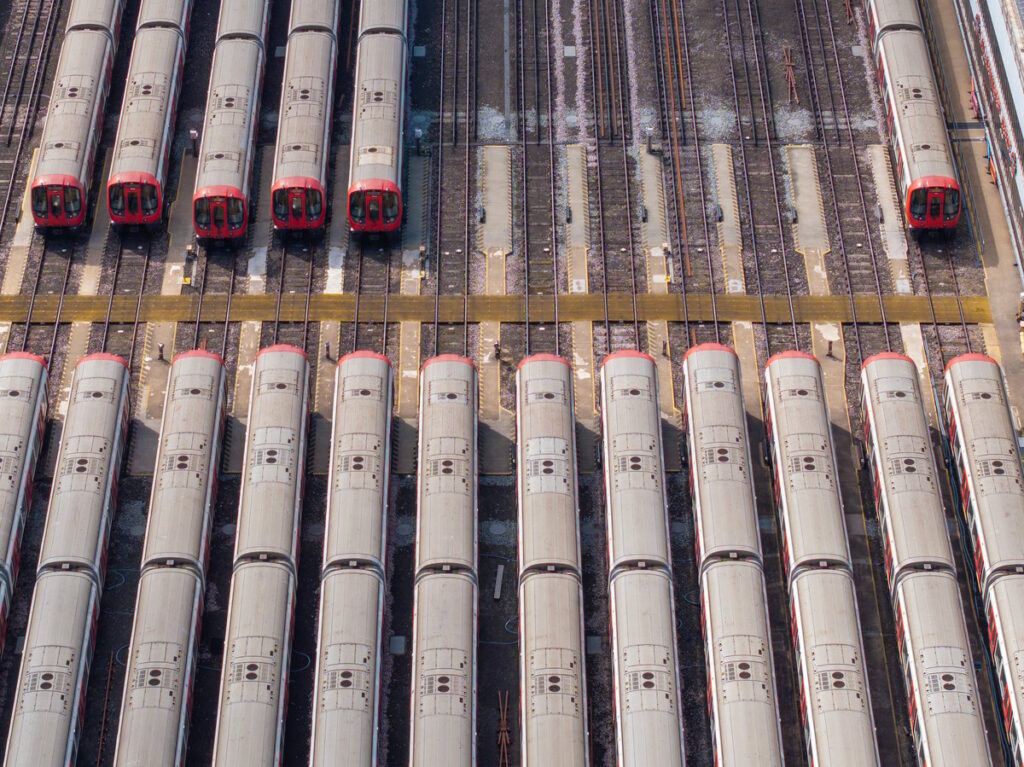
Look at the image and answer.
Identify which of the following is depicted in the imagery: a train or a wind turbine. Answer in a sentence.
I can see a train in this picture.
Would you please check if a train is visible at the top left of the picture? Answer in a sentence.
Yes, a train shows up at the top left of the picture.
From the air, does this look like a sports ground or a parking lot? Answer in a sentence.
The picture captures a parking lot.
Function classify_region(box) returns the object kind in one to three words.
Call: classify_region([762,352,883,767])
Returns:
train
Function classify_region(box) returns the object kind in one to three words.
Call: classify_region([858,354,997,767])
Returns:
train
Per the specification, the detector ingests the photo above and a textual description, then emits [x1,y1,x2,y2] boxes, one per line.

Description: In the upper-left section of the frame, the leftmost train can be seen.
[30,0,128,240]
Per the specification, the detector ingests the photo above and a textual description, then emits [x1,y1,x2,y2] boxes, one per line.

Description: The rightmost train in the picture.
[942,355,1024,767]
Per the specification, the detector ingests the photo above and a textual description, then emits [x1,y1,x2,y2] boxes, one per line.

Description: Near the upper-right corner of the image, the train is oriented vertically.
[862,0,962,240]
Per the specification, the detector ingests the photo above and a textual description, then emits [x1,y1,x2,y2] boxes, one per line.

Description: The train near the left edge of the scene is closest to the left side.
[0,354,52,665]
